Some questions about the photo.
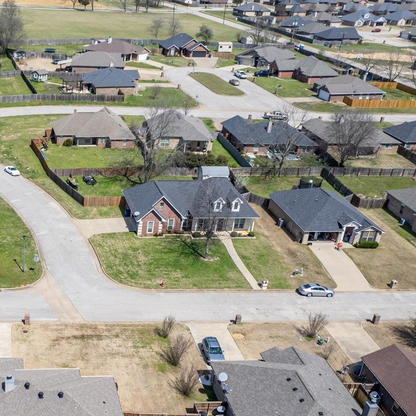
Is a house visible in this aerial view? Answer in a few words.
Yes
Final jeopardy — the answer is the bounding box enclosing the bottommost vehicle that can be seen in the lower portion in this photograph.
[202,335,226,364]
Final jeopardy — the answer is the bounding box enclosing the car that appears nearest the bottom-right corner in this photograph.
[297,283,337,298]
